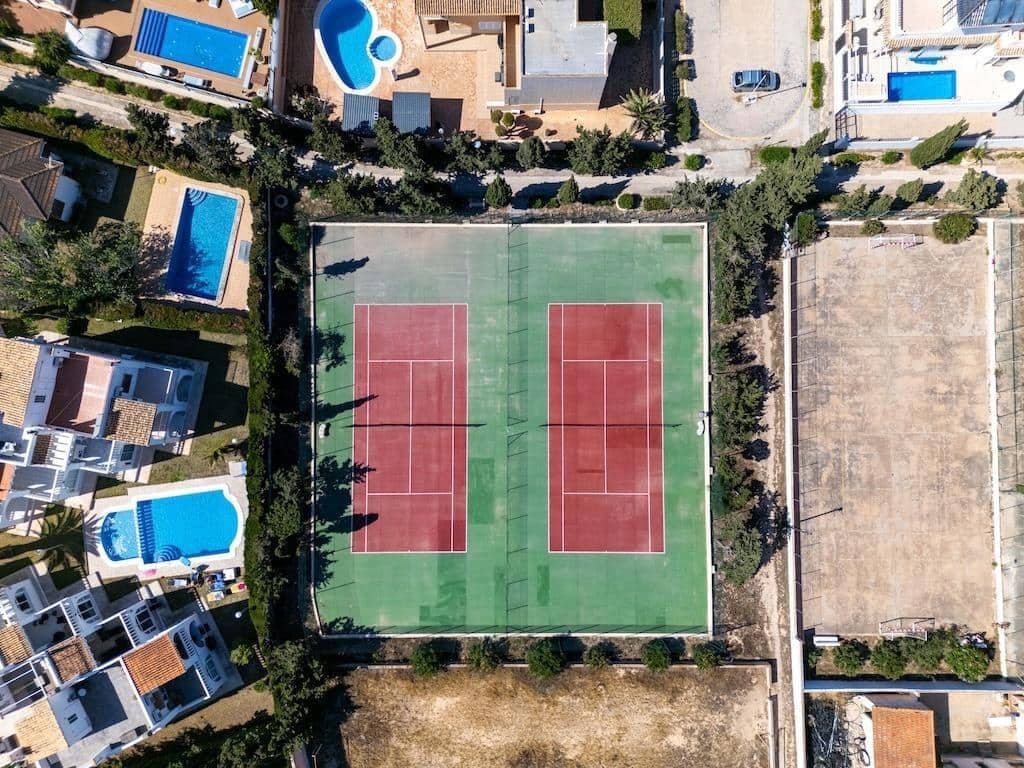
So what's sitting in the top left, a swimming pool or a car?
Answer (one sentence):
You can see a swimming pool in the top left.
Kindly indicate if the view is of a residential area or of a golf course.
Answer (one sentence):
What you see here is a residential area.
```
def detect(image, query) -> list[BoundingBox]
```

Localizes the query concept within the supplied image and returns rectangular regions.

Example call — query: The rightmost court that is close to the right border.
[1000,224,1024,678]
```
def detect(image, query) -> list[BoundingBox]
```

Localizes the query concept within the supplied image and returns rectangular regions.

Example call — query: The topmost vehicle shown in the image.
[732,68,778,93]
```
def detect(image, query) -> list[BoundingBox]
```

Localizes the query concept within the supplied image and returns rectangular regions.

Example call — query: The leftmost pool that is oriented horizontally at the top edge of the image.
[133,6,252,78]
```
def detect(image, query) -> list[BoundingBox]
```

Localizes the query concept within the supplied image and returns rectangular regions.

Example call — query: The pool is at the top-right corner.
[884,66,960,104]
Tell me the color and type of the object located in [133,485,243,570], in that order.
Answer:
blue swimming pool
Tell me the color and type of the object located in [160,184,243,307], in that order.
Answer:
blue swimming pool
